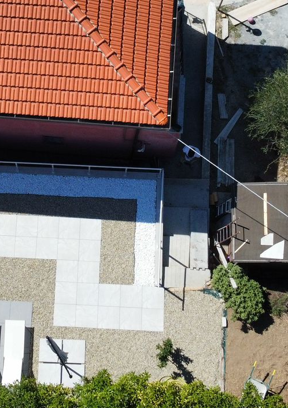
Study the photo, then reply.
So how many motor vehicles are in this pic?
none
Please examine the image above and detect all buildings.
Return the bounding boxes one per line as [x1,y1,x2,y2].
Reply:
[231,183,288,265]
[0,0,184,169]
